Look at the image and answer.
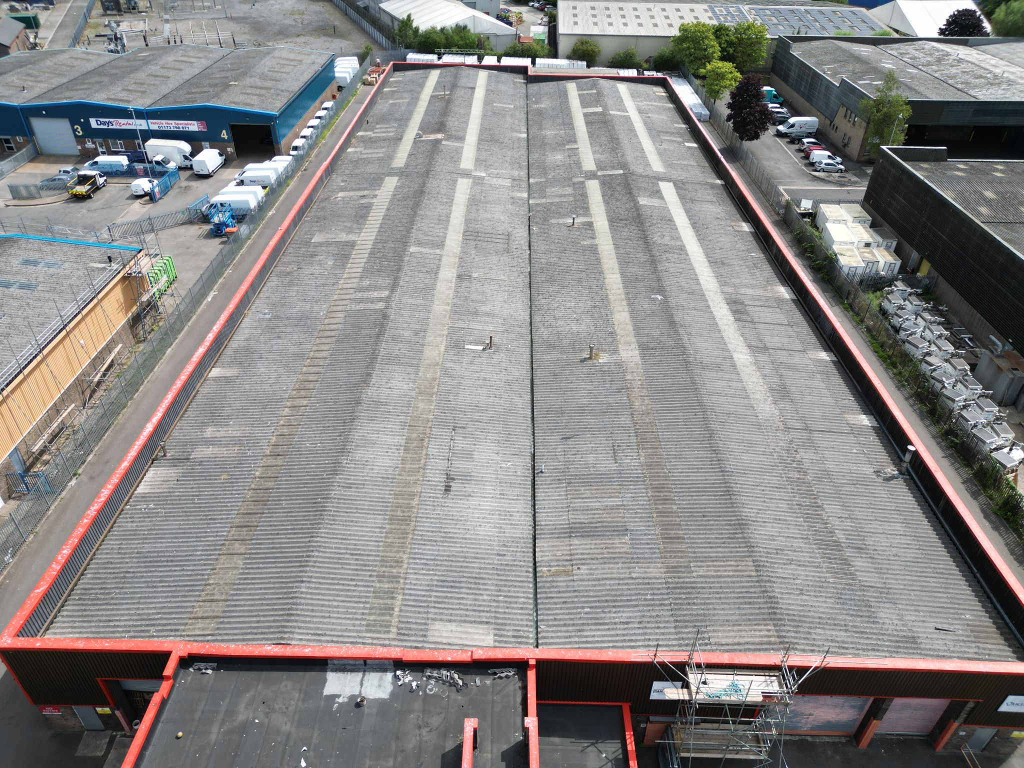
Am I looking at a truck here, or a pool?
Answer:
truck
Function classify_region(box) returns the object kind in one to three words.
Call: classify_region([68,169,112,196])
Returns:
truck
